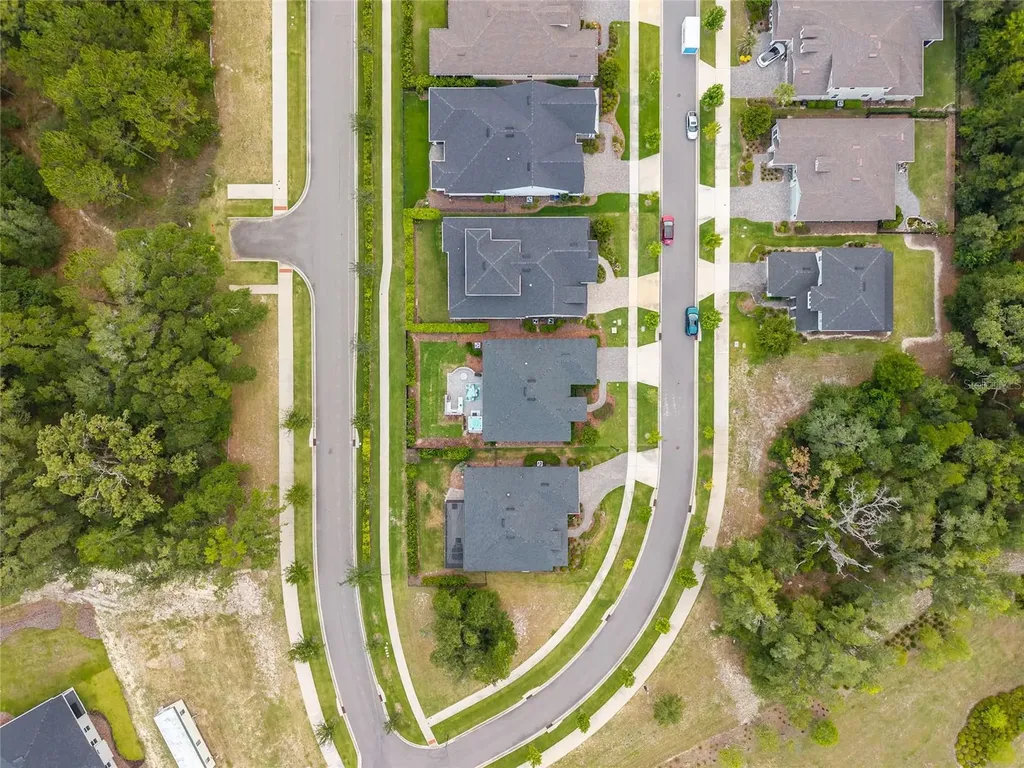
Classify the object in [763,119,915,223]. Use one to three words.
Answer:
house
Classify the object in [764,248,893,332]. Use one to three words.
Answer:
house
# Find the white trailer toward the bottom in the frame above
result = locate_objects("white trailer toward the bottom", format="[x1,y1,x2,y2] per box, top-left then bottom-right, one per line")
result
[153,700,214,768]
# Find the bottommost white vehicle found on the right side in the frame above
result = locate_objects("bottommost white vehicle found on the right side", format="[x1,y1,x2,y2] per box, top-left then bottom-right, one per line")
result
[686,110,700,140]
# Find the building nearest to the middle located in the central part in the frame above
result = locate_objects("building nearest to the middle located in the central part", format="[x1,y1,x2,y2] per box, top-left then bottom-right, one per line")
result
[482,338,597,441]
